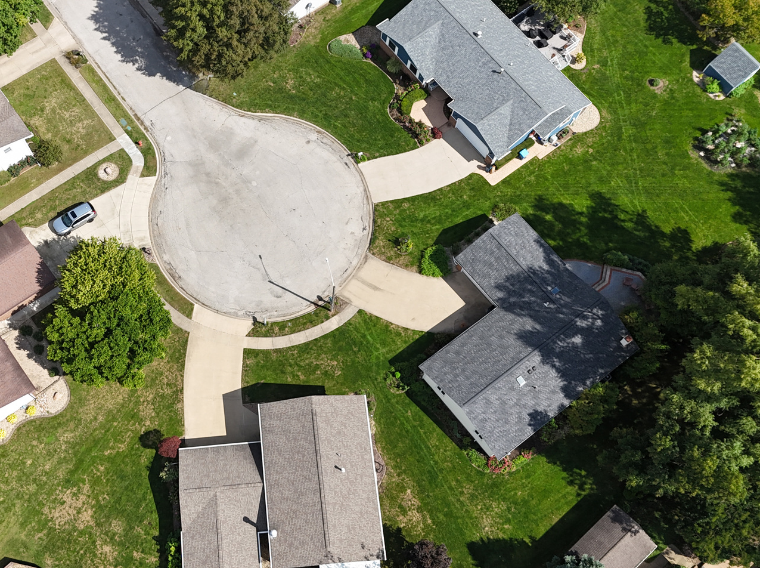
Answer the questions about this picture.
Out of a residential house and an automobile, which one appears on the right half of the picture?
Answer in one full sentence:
Visible on the right half of the picture is a residential house.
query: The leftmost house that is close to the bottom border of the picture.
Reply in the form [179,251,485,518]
[174,394,387,568]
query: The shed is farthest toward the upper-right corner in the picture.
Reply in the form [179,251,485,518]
[700,42,760,98]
